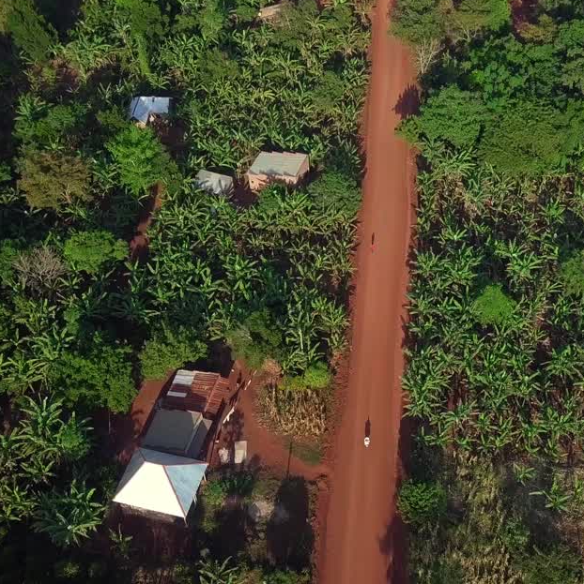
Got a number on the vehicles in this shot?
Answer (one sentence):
I count no vehicles.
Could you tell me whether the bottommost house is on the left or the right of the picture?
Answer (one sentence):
The bottommost house is on the left side of the image.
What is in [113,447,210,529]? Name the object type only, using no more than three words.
house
